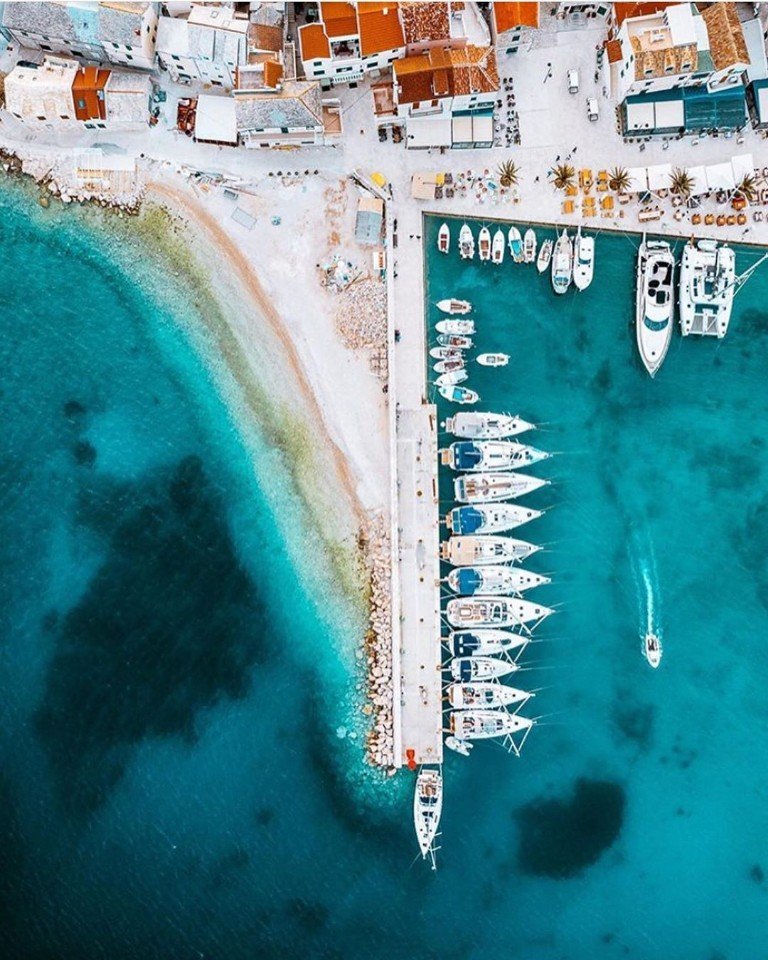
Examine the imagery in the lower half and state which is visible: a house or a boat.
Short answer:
boat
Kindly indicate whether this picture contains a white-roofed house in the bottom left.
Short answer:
No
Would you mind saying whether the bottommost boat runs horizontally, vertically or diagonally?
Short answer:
vertically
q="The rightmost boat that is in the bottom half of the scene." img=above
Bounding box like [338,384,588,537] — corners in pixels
[645,632,660,668]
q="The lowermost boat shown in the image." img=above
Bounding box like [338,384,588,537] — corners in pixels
[409,763,446,884]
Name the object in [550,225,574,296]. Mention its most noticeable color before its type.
white boat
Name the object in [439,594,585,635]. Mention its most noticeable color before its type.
white boat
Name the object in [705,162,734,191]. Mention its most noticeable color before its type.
white umbrella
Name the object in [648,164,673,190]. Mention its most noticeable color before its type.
white umbrella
